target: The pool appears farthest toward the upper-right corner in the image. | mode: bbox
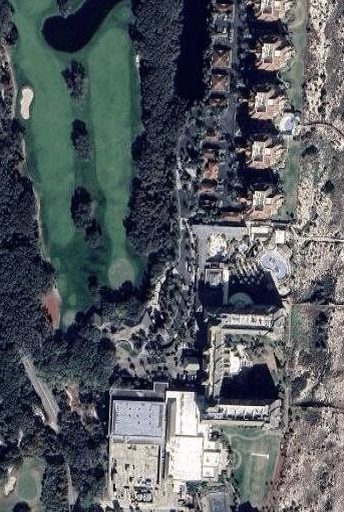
[280,110,298,133]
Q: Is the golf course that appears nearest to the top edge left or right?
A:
left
